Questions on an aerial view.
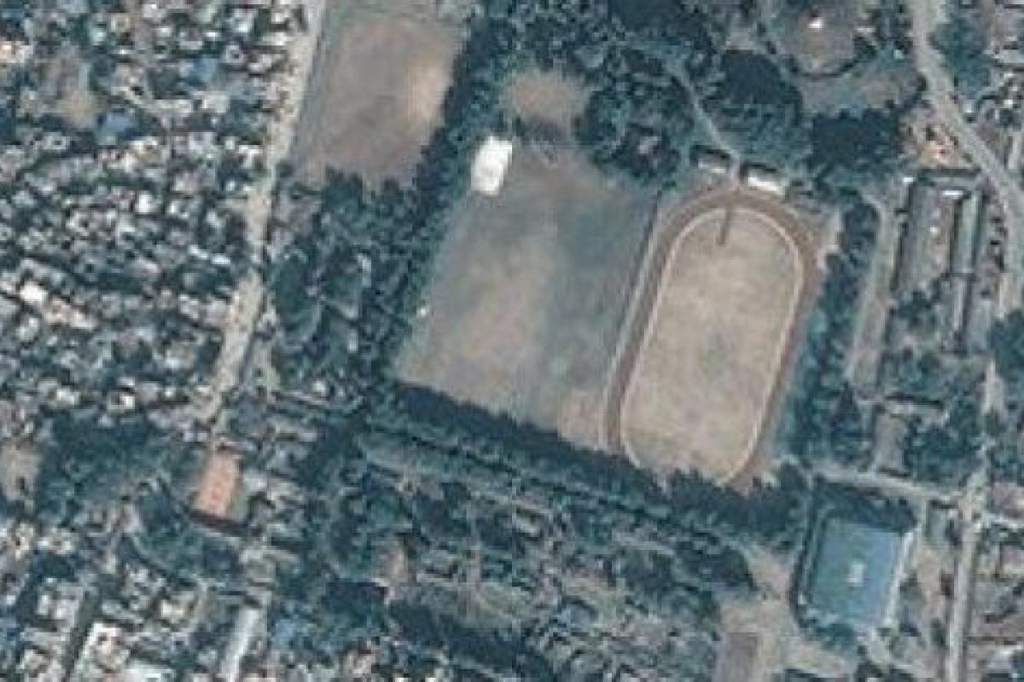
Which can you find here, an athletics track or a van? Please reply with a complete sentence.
This aerial view contains an athletics track.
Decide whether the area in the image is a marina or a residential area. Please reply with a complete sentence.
The picture captures a residential area.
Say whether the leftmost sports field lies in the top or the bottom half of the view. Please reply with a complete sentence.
The top half of the photo is where the leftmost sports field is.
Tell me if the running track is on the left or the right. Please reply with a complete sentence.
The running track appears in the right half of the scene.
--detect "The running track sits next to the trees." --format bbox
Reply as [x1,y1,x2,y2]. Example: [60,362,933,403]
[601,184,820,508]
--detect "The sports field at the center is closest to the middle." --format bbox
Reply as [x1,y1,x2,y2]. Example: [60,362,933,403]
[399,136,656,450]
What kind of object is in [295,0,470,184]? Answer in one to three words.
sports field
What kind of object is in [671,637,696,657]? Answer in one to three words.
house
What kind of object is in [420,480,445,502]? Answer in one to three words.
house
